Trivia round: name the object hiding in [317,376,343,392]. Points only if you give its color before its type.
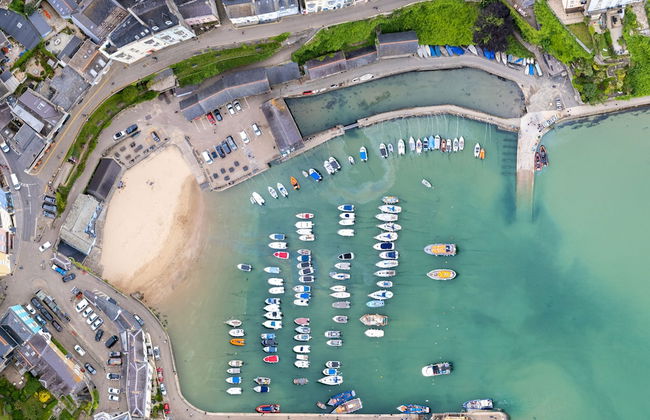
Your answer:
white boat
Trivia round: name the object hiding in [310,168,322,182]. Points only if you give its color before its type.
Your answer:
blue boat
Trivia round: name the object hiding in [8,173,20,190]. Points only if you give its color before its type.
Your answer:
white vehicle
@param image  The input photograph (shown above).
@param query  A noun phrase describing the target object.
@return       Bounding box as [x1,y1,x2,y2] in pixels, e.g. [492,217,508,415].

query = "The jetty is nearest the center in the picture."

[304,124,343,154]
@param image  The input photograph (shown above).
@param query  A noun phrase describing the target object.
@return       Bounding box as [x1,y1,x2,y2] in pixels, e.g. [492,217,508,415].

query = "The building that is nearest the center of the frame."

[262,98,305,155]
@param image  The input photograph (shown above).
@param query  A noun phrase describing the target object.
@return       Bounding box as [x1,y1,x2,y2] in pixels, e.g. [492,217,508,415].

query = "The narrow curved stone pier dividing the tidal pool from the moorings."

[358,103,519,134]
